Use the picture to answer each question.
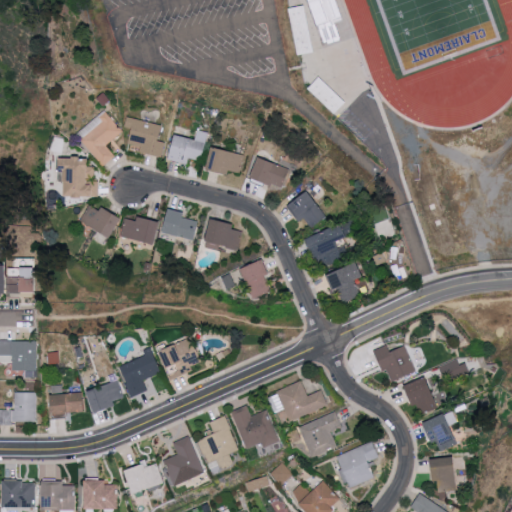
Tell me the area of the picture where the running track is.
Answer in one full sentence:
Look in the top right portion of the view to spot the running track.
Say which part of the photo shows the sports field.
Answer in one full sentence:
Look in the top right portion of the view to spot the sports field.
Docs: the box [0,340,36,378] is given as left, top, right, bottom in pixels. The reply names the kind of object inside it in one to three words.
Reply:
house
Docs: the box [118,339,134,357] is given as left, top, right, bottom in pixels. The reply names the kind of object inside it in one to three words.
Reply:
swimming pool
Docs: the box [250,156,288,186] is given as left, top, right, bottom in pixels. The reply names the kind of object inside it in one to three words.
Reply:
house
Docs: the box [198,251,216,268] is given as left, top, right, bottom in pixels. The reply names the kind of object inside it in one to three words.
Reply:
swimming pool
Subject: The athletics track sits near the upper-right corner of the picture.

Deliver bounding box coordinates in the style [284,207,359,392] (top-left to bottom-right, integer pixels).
[342,0,512,130]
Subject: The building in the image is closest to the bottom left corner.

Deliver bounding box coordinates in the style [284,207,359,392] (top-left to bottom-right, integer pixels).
[1,480,34,508]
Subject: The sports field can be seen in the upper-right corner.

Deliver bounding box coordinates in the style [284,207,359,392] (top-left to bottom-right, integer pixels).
[370,0,506,78]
